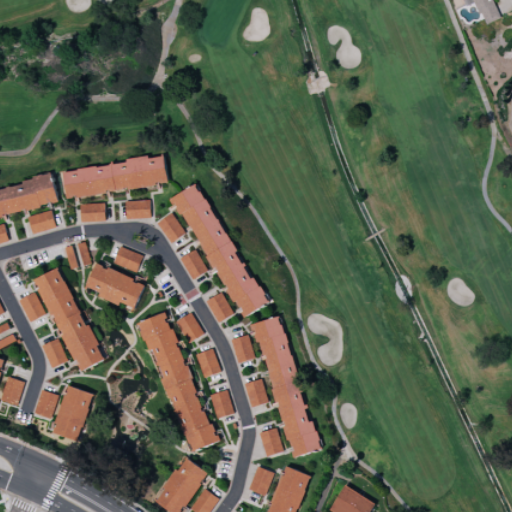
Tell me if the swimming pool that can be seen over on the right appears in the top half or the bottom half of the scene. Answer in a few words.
top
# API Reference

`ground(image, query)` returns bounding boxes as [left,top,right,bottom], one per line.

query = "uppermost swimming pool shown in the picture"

[457,4,485,24]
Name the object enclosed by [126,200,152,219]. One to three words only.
building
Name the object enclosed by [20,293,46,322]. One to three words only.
building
